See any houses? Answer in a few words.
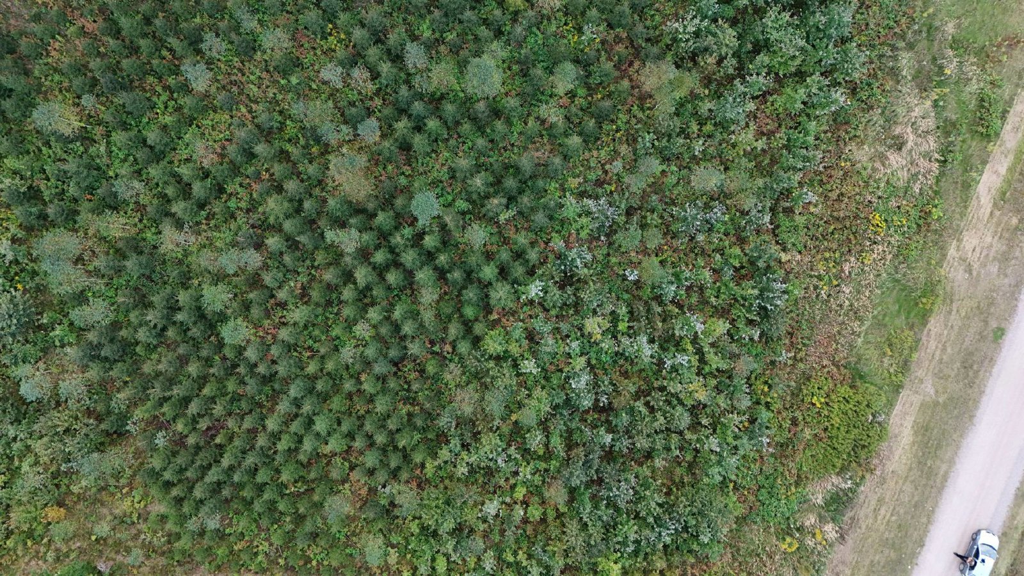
No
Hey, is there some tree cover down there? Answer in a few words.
Yes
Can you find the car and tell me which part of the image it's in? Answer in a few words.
bottom right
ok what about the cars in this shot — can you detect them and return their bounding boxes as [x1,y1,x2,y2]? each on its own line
[960,528,1002,576]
